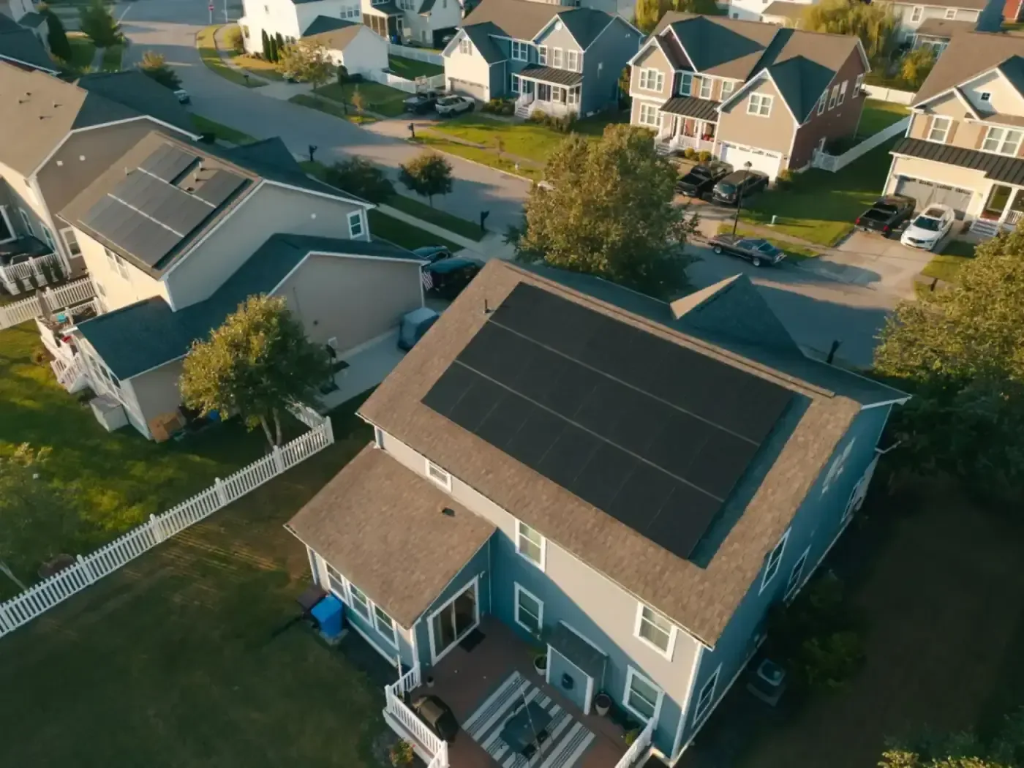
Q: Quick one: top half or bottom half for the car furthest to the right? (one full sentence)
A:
The top half of the photo is where the car furthest to the right is.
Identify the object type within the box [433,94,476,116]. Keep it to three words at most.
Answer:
car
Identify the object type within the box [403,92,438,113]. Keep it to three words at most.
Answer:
car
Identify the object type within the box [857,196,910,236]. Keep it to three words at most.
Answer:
truck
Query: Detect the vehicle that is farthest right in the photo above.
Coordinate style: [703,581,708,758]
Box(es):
[903,213,952,248]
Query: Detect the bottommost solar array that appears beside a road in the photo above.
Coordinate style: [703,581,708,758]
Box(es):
[420,283,793,558]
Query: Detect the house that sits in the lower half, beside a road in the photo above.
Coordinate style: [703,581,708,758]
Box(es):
[282,262,906,764]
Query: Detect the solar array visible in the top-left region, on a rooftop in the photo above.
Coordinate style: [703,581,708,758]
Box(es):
[77,142,245,264]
